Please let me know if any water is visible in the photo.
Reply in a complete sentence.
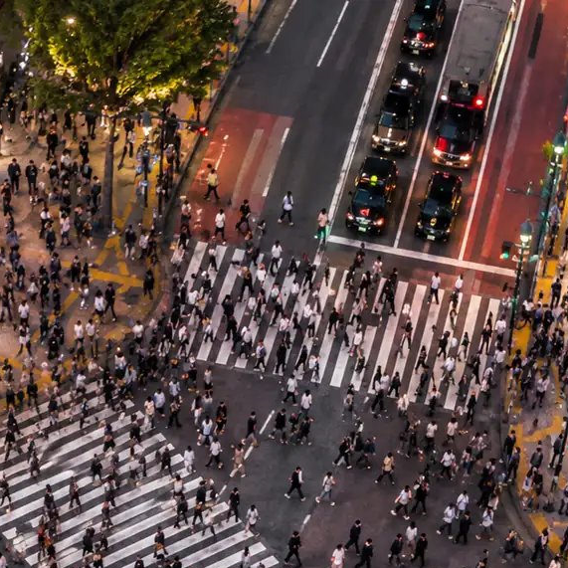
No, the scene doesn't show any water.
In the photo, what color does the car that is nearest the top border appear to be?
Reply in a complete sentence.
From above, the car that is nearest the top border appears black.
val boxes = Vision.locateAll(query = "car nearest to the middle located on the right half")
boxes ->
[351,159,404,233]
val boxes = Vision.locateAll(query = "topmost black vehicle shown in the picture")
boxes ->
[404,0,450,55]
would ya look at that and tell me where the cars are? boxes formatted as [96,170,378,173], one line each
[404,0,450,55]
[436,98,483,167]
[377,79,427,152]
[351,159,404,233]
[422,168,474,241]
